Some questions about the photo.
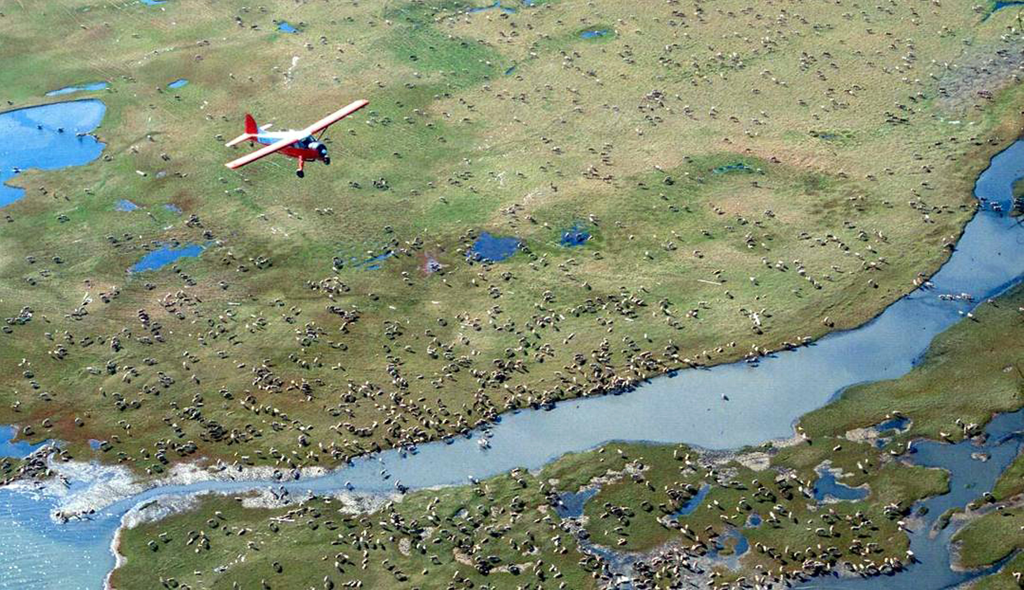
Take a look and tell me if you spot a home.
No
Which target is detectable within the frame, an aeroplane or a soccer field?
aeroplane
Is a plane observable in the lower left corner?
No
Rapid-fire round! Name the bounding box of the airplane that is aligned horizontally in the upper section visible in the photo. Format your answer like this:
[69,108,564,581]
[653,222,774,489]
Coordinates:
[225,100,369,177]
